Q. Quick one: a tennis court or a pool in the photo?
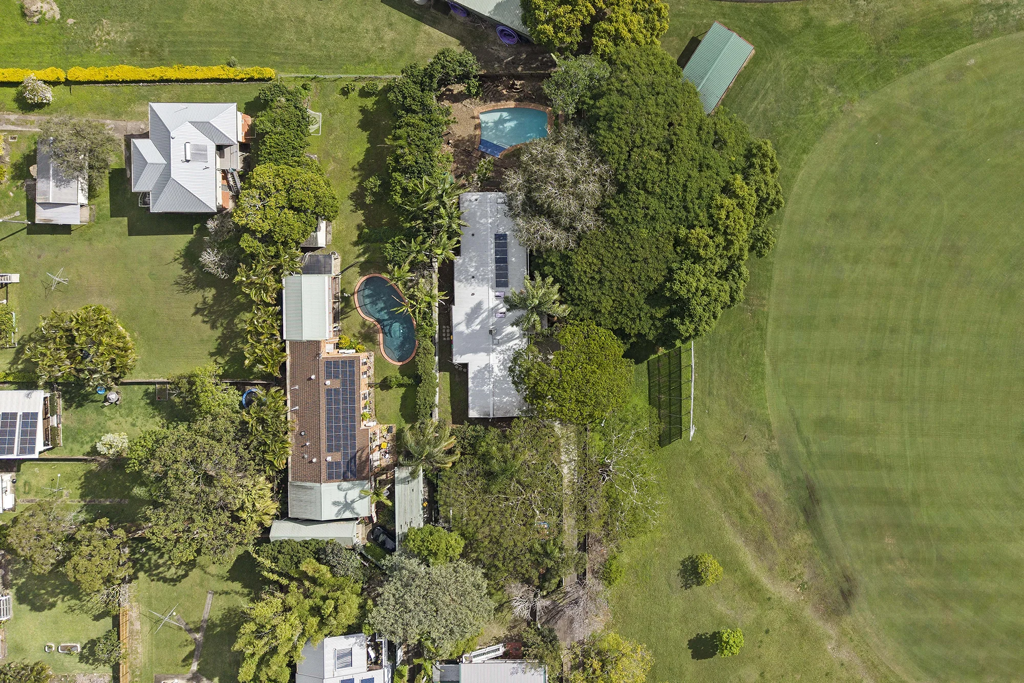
pool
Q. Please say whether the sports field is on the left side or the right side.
right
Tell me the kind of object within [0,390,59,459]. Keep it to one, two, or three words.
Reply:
house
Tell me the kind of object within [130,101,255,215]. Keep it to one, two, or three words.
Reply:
house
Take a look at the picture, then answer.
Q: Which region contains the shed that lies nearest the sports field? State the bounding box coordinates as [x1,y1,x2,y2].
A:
[675,21,754,110]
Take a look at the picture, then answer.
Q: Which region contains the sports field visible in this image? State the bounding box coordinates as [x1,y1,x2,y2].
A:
[767,33,1024,683]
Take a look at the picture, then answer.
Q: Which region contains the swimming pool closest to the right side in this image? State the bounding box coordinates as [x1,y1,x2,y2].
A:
[473,103,553,163]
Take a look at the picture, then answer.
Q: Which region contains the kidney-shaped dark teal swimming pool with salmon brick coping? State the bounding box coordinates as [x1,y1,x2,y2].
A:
[354,274,418,365]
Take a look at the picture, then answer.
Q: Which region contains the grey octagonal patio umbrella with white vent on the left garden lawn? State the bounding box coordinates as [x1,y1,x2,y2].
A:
[105,389,124,405]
